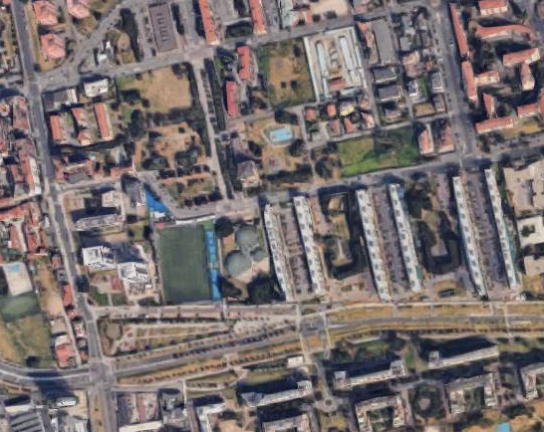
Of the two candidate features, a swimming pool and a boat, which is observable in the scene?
swimming pool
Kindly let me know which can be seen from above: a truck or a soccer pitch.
soccer pitch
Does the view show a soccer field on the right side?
No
